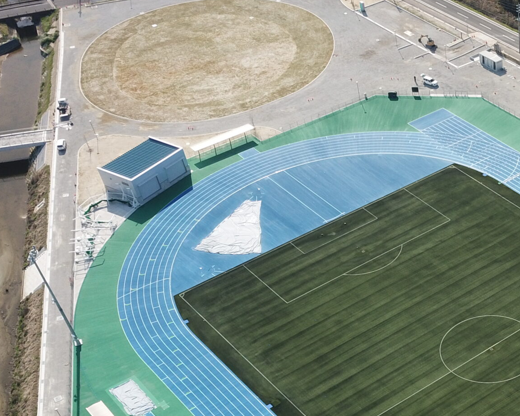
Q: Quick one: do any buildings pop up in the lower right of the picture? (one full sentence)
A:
No, no building can be made out in the lower right of the picture.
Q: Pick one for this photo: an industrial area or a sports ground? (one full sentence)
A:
This image shows a sports ground.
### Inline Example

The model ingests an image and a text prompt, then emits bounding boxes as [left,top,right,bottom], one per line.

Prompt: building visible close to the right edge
[474,47,504,72]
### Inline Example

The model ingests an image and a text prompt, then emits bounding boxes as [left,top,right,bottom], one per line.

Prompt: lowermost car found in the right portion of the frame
[420,73,443,87]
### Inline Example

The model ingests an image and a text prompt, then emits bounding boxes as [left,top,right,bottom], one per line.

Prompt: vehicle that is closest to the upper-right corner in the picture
[422,25,437,46]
